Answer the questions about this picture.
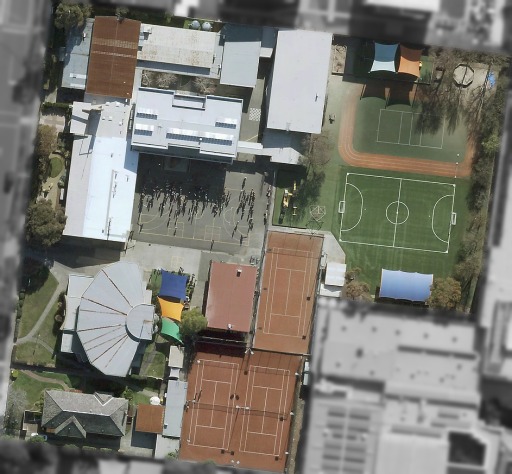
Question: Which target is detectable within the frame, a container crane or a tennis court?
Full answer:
It is a tennis court that can be seen here.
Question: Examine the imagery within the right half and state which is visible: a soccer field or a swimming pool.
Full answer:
The feature located within the right half is a soccer field.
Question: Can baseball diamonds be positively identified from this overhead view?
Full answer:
No, there isn't any baseball diamond down there.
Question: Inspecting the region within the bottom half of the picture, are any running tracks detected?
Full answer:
No, there is no running track within the bottom half of the picture.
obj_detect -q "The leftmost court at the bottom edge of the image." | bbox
[177,344,249,470]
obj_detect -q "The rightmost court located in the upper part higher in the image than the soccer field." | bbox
[352,80,466,162]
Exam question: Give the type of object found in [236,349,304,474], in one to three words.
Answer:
tennis court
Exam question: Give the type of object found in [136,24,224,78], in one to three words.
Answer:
building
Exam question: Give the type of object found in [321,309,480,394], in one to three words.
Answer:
building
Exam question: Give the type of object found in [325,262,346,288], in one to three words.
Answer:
shed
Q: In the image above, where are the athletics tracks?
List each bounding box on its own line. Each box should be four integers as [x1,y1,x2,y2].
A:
[340,82,474,178]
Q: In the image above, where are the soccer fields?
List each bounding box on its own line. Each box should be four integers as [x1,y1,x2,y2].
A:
[331,168,476,305]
